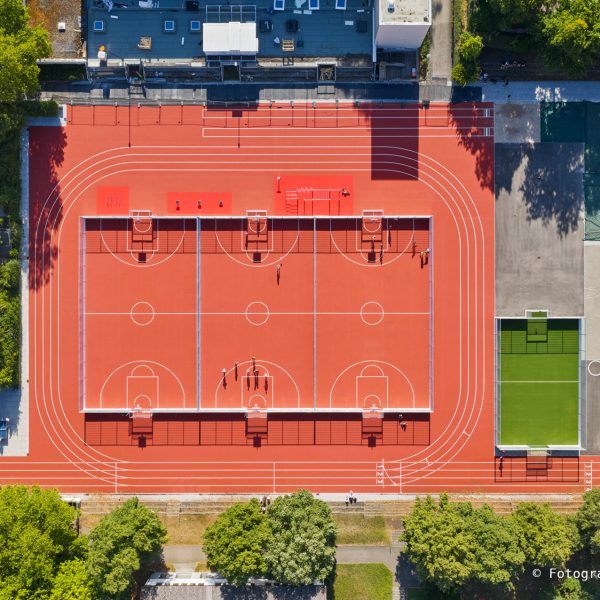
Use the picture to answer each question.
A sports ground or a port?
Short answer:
sports ground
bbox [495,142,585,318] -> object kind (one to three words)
sports court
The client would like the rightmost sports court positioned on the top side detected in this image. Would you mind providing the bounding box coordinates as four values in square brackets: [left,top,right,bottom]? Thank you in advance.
[540,102,600,241]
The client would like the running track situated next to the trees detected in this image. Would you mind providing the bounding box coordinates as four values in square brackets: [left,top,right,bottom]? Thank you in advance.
[0,103,600,494]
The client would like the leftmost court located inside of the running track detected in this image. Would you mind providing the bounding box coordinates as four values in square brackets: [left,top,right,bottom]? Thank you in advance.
[86,218,197,410]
